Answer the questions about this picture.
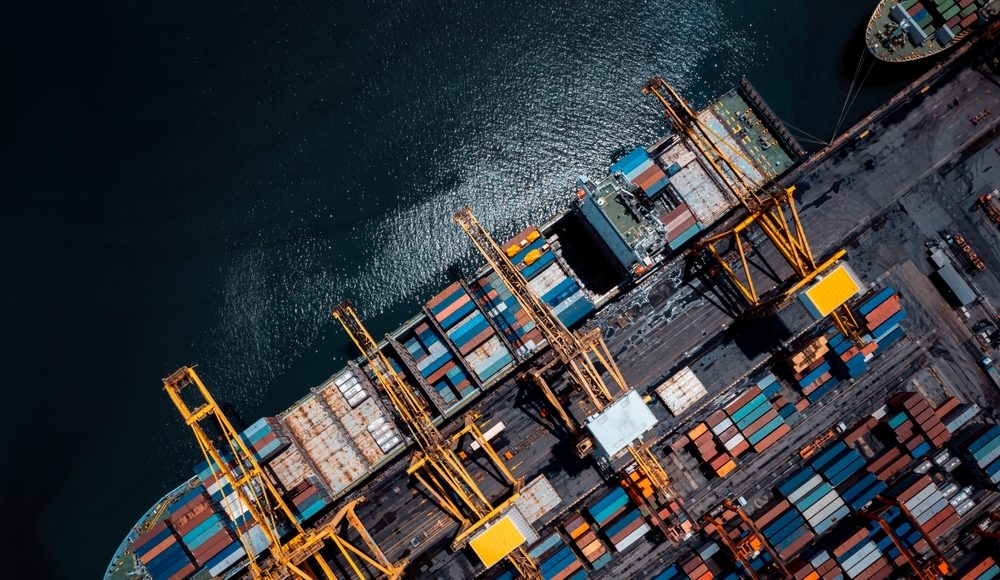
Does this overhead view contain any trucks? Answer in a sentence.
Yes, there's a truck down there.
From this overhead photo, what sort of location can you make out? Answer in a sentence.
The area seen from above is a port.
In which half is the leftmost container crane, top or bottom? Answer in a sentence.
You can find the leftmost container crane in the bottom half.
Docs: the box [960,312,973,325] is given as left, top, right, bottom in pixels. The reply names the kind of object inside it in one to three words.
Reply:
vehicle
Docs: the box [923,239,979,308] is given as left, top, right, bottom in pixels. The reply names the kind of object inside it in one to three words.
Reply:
shed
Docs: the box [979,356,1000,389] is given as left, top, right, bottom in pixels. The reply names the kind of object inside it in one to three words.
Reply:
truck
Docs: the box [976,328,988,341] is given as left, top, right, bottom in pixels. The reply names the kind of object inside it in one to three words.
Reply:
vehicle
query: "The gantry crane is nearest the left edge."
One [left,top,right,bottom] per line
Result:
[160,361,407,580]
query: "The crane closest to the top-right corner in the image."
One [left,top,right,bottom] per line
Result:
[645,72,873,348]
